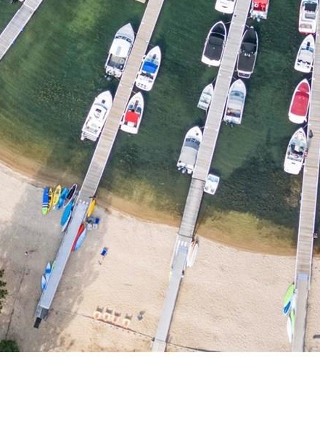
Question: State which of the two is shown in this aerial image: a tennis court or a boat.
boat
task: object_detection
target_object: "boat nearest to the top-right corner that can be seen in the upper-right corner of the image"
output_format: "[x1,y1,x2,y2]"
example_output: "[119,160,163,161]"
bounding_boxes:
[298,0,318,35]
